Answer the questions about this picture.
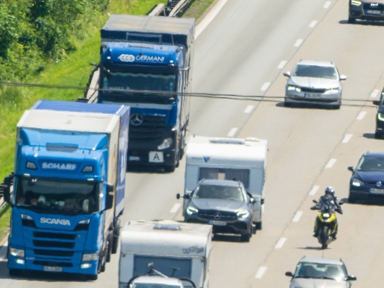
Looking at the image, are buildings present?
No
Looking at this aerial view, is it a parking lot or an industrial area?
parking lot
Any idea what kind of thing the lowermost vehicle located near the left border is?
truck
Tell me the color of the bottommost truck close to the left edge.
blue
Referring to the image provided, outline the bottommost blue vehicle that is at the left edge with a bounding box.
[6,104,133,274]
